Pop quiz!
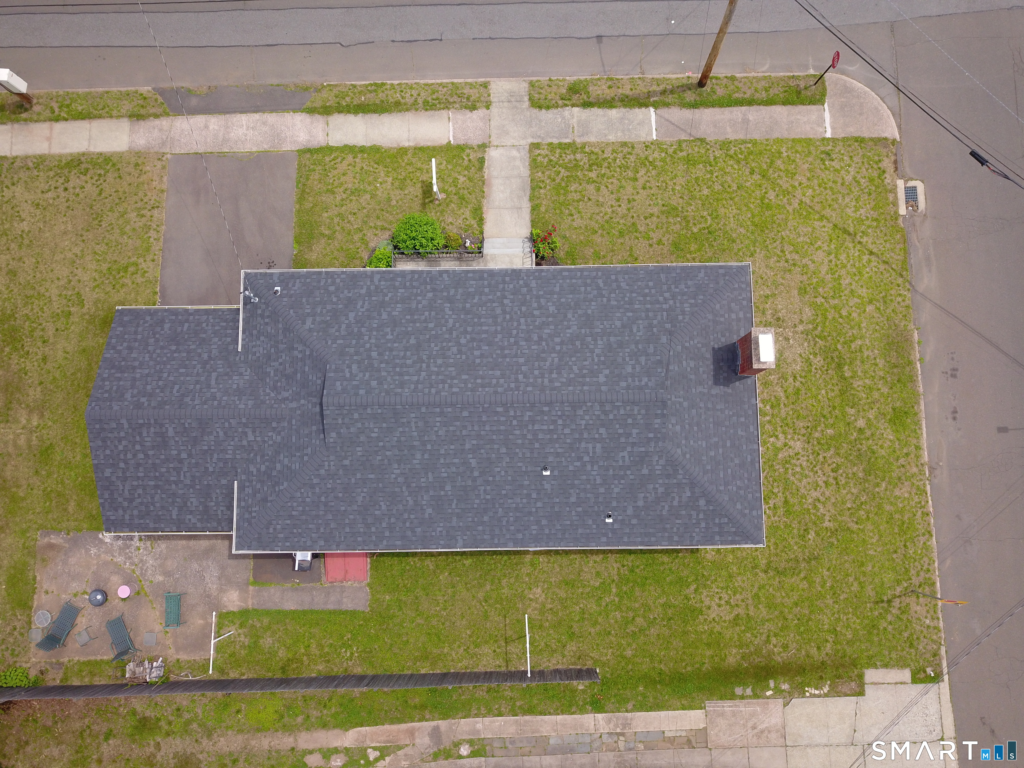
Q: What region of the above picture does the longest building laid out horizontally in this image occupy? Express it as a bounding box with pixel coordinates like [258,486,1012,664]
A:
[84,262,780,553]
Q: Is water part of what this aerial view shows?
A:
No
